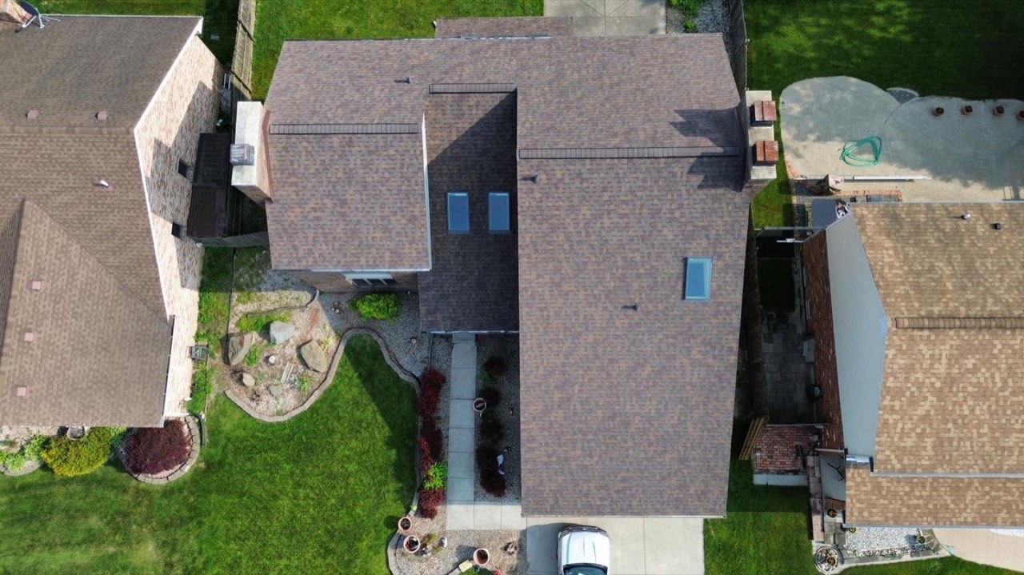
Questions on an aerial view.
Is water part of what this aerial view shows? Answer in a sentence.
No, water can't be seen anywhere here.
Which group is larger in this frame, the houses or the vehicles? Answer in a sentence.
The houses are the larger group, ahead of the vehicles.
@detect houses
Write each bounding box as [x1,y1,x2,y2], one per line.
[803,200,1024,528]
[0,0,218,430]
[229,16,779,518]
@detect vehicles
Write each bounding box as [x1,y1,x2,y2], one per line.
[554,522,617,575]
